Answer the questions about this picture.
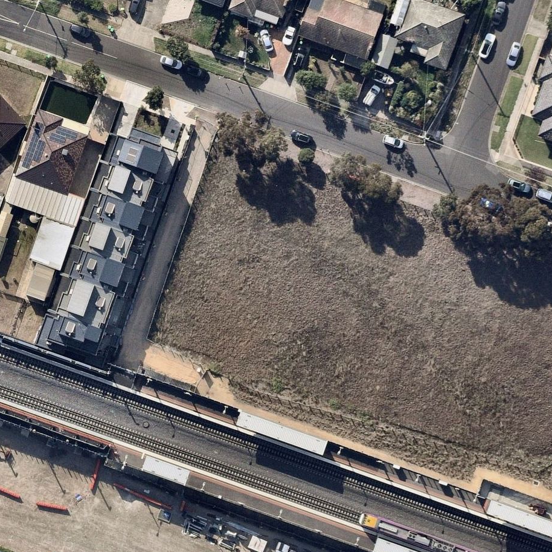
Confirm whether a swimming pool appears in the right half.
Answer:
No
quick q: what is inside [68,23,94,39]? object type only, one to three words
car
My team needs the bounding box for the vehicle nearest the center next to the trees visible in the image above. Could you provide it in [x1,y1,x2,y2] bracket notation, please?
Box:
[289,129,315,145]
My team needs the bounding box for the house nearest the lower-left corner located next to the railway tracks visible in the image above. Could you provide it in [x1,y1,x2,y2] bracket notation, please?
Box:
[36,314,103,356]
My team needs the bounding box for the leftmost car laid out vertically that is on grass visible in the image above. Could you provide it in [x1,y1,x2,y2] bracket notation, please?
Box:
[260,28,273,53]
